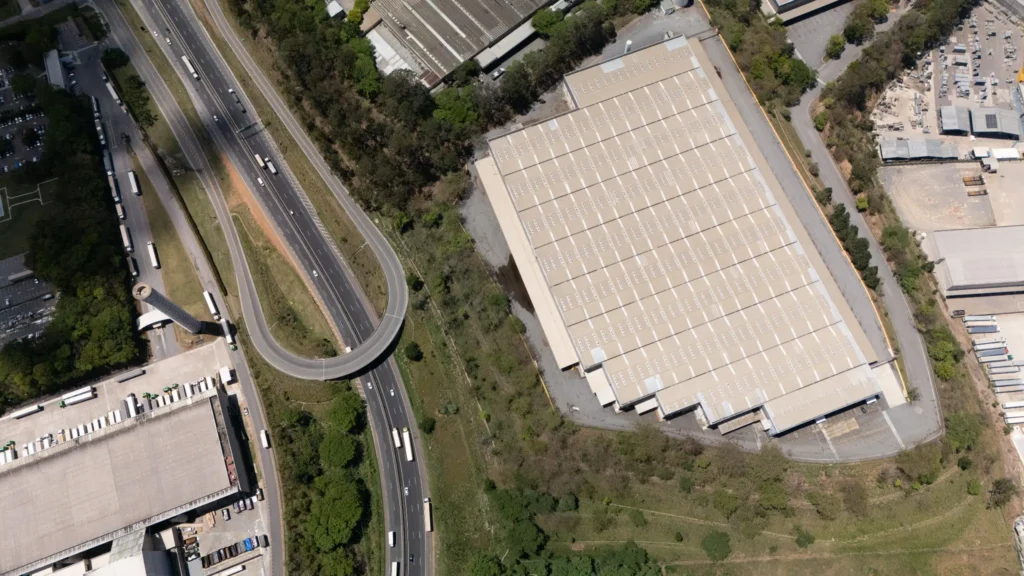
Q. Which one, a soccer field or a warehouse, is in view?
warehouse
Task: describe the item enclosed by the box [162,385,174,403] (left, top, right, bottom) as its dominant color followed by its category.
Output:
white vehicle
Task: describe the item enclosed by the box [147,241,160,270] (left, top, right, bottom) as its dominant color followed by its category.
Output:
white vehicle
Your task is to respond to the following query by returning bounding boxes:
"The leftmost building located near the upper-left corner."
[45,50,69,92]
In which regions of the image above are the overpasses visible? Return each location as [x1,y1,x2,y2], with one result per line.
[326,293,405,381]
